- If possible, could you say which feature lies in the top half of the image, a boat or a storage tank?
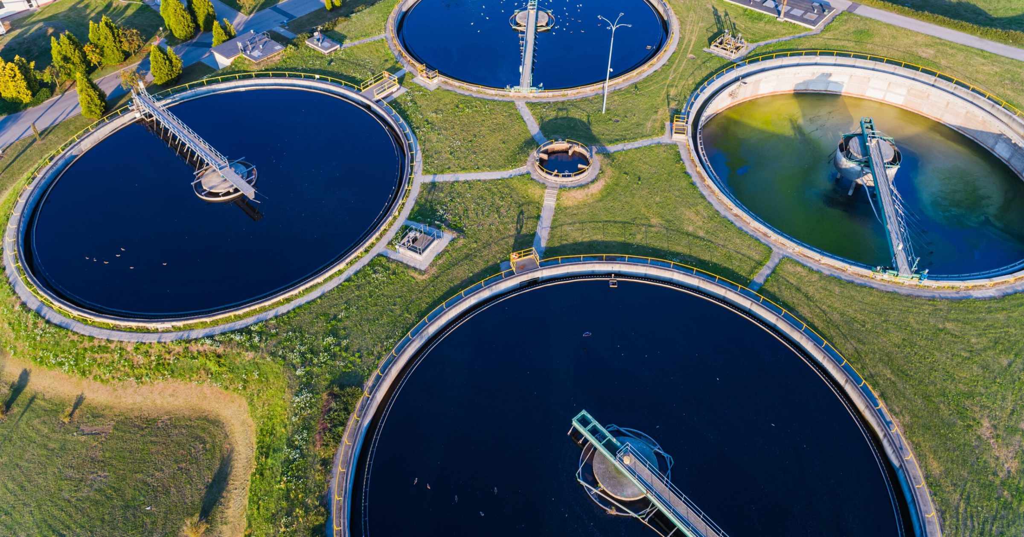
storage tank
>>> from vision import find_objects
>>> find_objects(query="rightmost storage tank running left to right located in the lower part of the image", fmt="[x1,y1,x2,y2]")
[330,252,947,537]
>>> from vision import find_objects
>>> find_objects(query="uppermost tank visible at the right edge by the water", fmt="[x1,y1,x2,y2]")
[679,49,1024,290]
